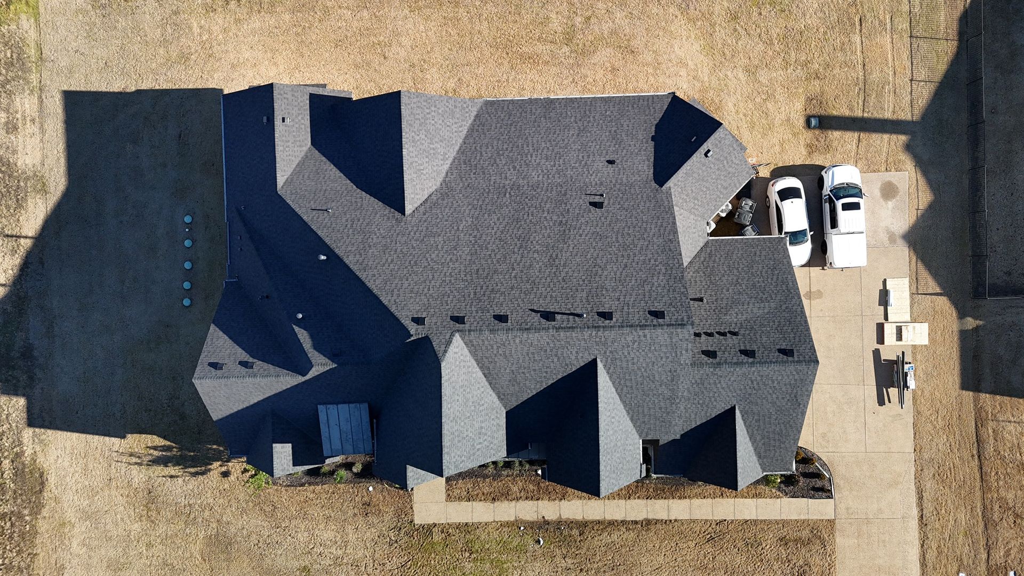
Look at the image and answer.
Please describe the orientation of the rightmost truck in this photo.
vertically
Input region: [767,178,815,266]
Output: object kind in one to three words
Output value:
car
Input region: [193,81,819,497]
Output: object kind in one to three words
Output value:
house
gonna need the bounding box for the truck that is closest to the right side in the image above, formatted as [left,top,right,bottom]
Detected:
[816,166,869,274]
